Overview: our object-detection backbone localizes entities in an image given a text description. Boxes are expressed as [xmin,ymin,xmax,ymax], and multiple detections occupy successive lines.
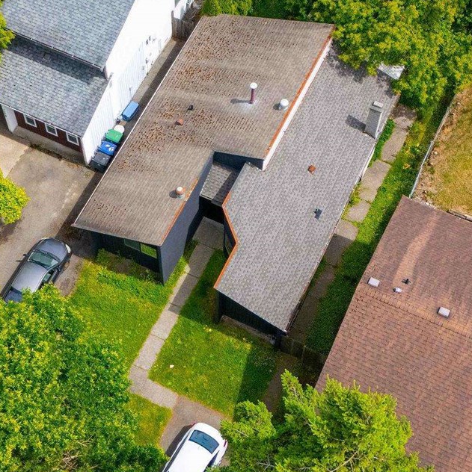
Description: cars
[0,238,65,319]
[169,418,234,472]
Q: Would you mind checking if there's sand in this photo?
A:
No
